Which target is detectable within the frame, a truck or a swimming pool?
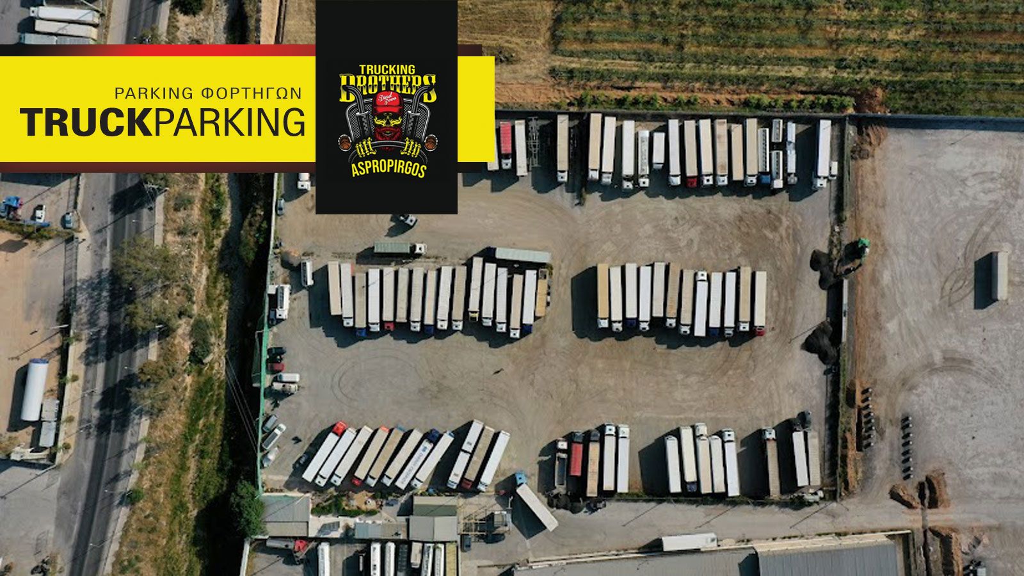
truck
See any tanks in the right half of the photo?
No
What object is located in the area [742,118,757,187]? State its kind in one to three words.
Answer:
vehicle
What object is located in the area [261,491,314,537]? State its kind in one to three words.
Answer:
building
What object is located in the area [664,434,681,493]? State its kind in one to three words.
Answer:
trailer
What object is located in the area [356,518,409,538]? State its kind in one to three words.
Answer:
shed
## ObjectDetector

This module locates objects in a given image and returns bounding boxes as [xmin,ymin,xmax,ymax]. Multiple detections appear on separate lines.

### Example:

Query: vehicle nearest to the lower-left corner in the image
[12,447,50,460]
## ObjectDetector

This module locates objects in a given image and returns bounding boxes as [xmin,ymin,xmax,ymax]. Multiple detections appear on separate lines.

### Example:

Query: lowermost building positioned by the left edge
[39,420,61,447]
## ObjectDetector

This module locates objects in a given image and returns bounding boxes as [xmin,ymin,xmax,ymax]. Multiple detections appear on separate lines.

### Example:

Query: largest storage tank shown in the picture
[23,359,52,420]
